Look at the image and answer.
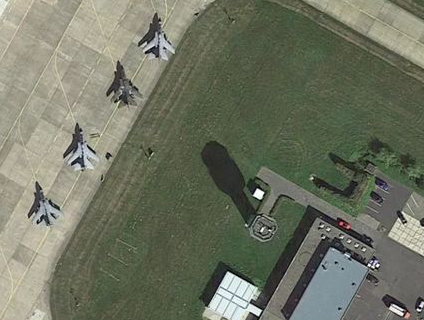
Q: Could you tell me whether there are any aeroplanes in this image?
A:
Yes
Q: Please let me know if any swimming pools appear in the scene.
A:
No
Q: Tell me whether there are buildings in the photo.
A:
Yes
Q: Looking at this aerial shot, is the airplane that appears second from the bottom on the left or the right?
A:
left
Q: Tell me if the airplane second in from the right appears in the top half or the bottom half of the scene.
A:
top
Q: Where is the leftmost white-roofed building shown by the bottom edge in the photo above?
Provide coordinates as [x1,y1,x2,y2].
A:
[207,271,261,320]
